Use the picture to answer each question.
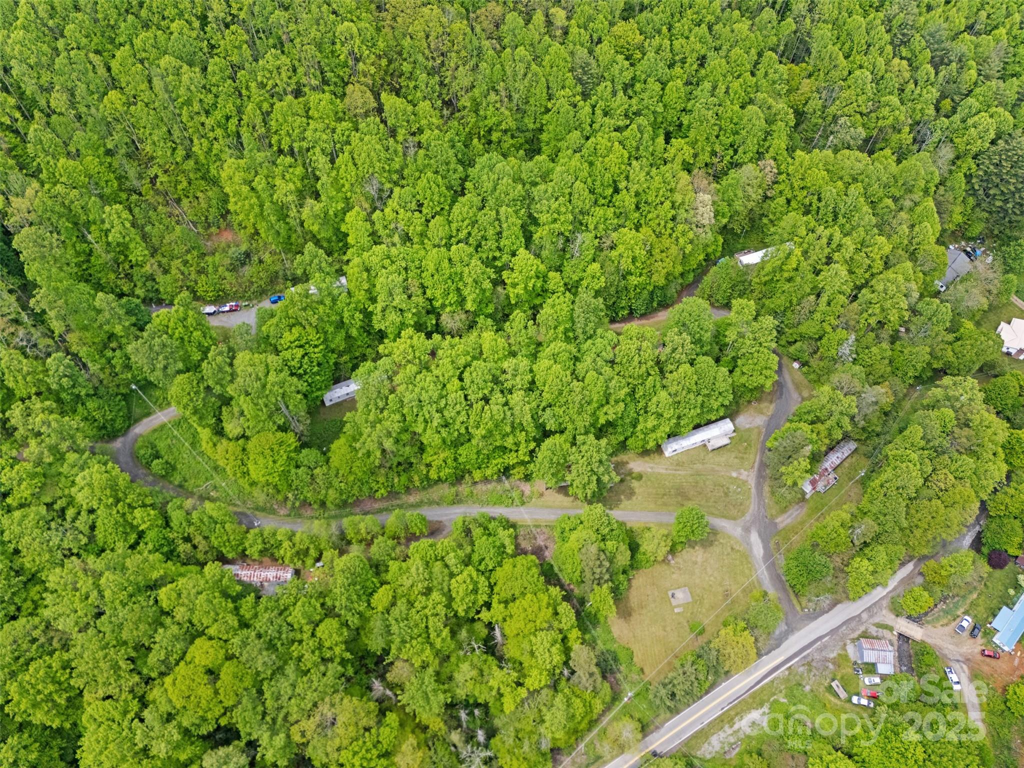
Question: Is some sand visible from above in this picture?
No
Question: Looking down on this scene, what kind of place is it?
forest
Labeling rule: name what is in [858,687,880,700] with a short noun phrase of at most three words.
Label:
vehicle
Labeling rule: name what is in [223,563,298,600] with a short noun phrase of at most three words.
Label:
house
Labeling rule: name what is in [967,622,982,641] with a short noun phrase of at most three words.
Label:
car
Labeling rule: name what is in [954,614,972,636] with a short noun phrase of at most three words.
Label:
vehicle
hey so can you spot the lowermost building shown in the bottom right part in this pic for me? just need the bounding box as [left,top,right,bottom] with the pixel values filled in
[853,636,894,681]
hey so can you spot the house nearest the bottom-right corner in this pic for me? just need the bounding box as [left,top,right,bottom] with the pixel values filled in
[980,592,1024,658]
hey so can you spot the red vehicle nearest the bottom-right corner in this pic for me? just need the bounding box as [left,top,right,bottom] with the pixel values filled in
[979,648,1002,662]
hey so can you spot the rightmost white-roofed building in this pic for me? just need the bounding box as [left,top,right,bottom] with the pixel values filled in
[981,314,1024,365]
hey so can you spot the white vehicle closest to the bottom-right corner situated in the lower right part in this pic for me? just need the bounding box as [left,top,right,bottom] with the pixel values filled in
[944,664,962,694]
